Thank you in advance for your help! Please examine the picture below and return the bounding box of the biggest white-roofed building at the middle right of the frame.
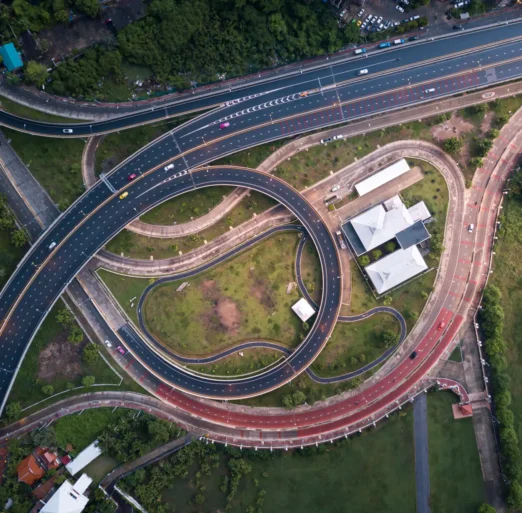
[341,194,431,255]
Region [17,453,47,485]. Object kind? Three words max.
house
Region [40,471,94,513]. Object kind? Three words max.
building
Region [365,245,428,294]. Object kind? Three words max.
building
